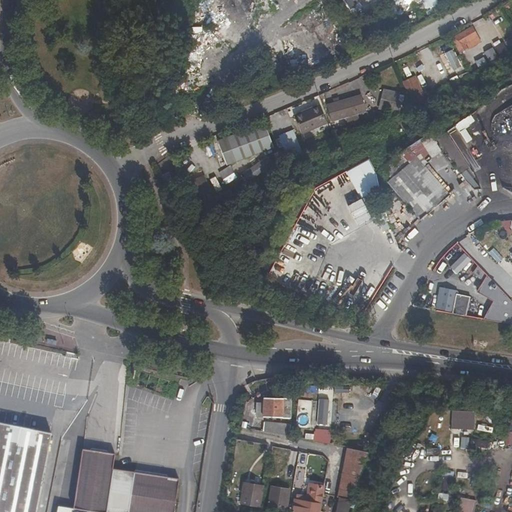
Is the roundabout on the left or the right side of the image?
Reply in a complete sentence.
It is on the left.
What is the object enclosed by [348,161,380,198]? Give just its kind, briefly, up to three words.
building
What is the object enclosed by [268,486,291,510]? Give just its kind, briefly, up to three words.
house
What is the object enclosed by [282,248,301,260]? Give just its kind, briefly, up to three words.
vehicle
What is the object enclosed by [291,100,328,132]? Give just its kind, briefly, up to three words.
house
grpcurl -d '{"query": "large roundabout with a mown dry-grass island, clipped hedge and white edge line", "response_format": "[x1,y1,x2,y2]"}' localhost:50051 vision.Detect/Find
[0,120,133,314]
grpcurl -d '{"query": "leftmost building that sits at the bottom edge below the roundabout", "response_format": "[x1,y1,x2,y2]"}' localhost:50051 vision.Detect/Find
[0,424,52,512]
